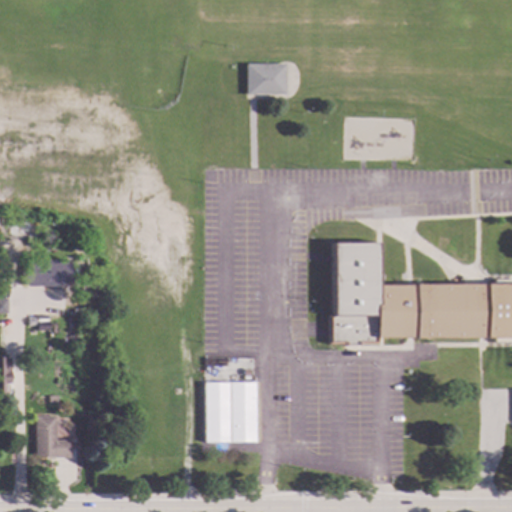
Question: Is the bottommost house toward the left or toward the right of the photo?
left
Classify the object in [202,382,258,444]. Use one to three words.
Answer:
building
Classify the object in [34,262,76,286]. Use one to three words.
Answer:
house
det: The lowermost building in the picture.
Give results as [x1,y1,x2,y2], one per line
[36,414,74,460]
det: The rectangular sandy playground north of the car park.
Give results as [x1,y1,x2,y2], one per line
[343,116,412,162]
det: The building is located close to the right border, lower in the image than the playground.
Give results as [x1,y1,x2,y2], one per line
[330,244,512,344]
